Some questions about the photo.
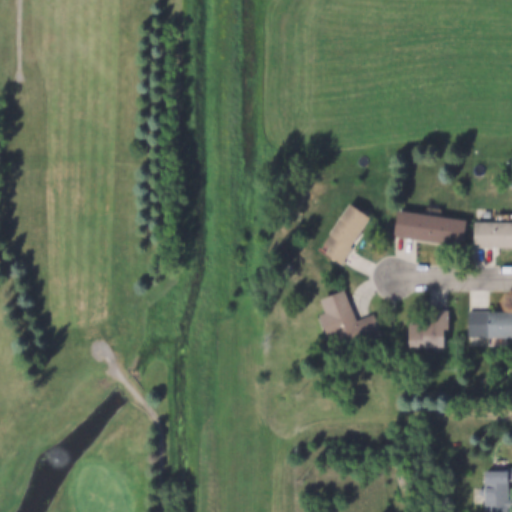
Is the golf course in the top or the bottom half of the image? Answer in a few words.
top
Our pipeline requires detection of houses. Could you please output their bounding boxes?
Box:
[316,290,380,336]
[320,205,370,264]
[396,211,467,245]
[485,471,512,512]
[469,312,512,339]
[409,310,450,348]
[474,222,512,248]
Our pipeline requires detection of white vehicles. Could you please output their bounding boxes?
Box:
[416,266,429,272]
[503,267,512,274]
[406,240,412,253]
[416,286,426,291]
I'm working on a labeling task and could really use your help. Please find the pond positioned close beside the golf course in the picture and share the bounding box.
[18,390,124,512]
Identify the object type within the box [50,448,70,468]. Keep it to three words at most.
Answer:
fountain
